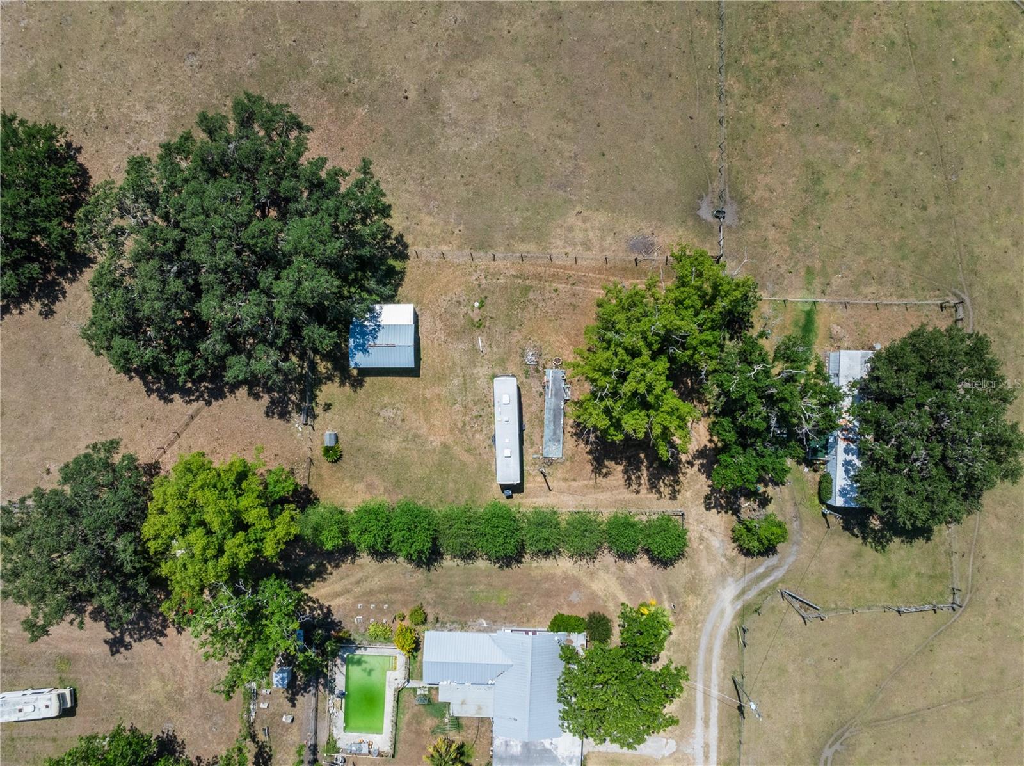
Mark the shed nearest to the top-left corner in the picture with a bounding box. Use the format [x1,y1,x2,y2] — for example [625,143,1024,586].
[350,304,416,367]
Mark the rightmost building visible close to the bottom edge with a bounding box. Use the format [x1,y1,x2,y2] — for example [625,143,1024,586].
[423,622,566,742]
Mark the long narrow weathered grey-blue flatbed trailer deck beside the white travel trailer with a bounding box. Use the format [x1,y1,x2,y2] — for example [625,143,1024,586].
[542,370,566,458]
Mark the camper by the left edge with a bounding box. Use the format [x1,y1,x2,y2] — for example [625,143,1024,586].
[0,683,82,720]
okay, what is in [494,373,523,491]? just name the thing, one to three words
trailer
